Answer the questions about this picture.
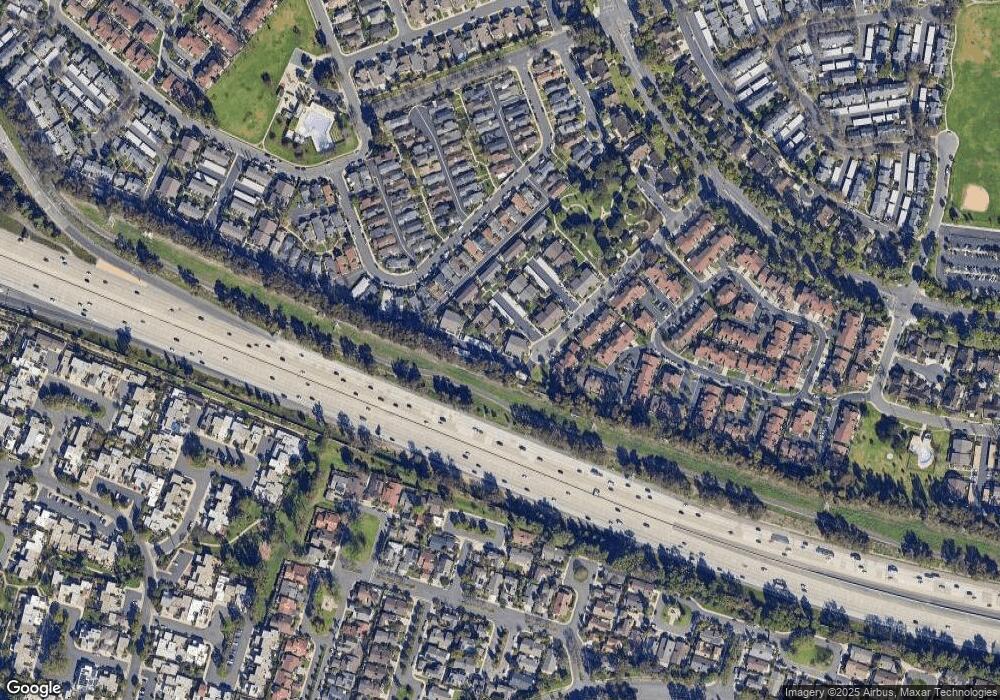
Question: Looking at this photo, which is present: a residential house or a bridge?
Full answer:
This aerial view contains a residential house.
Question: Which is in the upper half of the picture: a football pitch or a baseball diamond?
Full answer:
The one visible in the upper half of the picture is a baseball diamond.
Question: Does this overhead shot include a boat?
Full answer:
No, no boat can be seen from above.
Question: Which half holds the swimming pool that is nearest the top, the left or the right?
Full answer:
The swimming pool that is nearest the top is on the left side of the image.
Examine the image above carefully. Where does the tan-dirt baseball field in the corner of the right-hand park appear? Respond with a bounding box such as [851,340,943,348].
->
[962,185,989,212]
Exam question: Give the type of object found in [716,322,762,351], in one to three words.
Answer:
house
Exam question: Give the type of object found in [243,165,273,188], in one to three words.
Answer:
house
